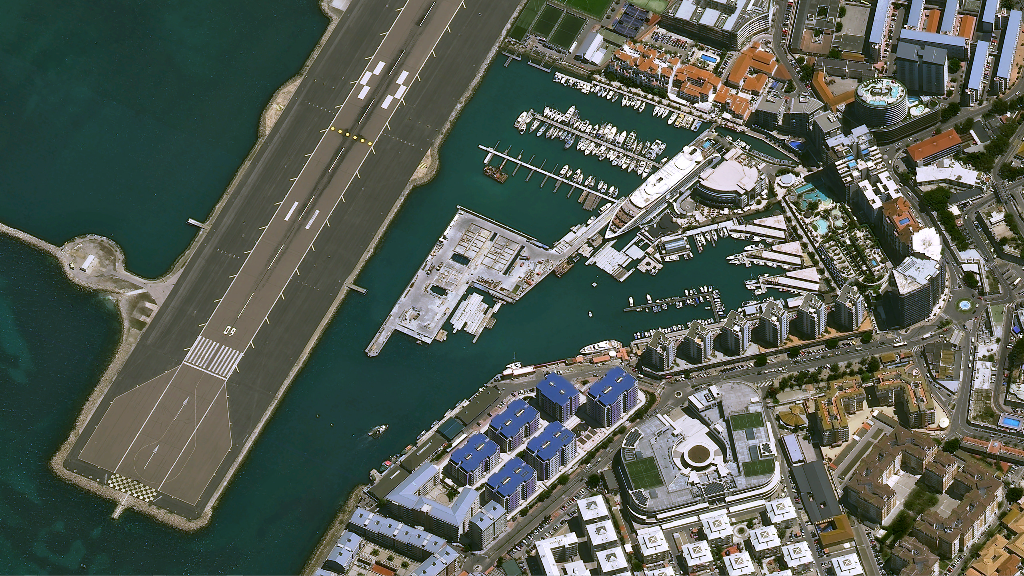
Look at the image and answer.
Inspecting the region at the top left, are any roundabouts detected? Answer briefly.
No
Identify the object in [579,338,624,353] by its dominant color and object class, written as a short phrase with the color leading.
white boat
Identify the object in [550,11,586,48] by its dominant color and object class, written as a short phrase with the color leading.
green soccer field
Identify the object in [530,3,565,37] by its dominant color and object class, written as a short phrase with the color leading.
green soccer field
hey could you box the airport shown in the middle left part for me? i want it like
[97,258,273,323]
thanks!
[0,0,527,532]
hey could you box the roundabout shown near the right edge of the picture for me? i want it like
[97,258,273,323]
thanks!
[942,287,988,323]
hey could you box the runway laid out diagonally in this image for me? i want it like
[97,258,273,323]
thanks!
[78,0,462,505]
